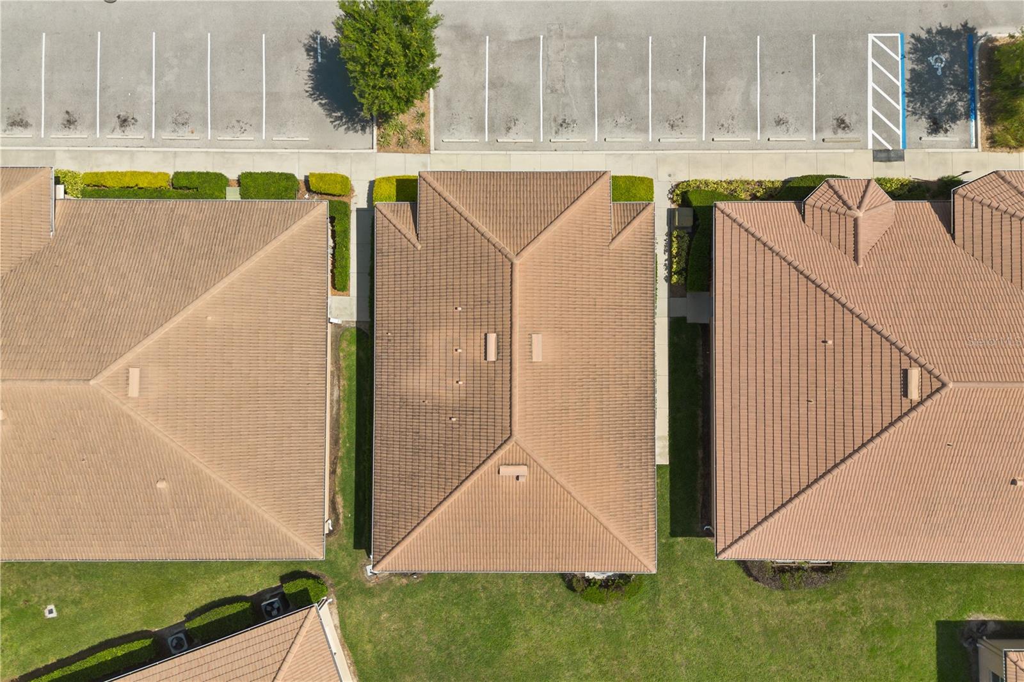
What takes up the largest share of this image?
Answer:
buildings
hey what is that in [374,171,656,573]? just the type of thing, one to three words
building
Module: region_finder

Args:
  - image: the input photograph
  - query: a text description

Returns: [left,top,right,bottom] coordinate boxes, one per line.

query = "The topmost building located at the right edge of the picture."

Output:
[700,170,1024,562]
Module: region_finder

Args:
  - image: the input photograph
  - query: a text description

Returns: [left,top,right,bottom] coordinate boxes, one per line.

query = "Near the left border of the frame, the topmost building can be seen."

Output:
[0,166,340,562]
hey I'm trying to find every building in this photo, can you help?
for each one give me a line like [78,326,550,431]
[700,170,1024,562]
[0,166,340,562]
[374,171,656,573]
[109,594,363,682]
[973,632,1024,682]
